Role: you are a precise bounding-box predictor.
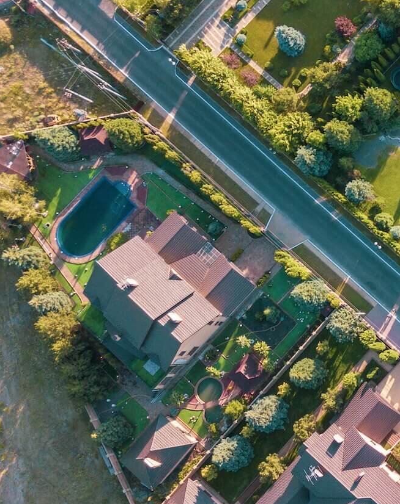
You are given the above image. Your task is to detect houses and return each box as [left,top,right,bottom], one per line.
[0,141,36,181]
[257,389,400,504]
[120,415,199,491]
[84,212,261,372]
[167,479,222,504]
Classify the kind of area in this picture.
residential area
